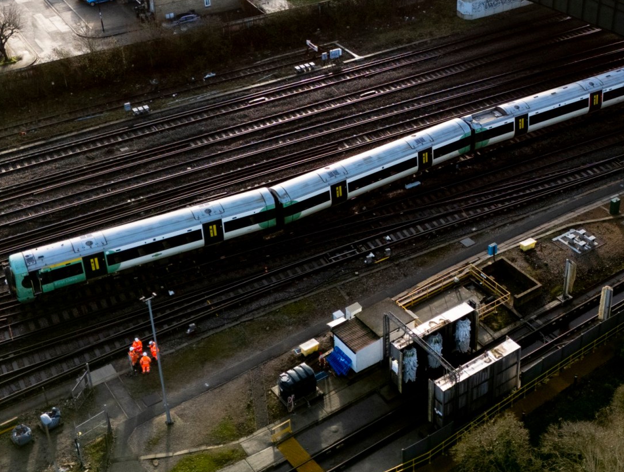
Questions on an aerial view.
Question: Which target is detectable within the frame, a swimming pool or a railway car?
railway car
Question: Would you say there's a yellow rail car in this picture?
No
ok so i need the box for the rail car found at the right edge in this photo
[459,64,624,152]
